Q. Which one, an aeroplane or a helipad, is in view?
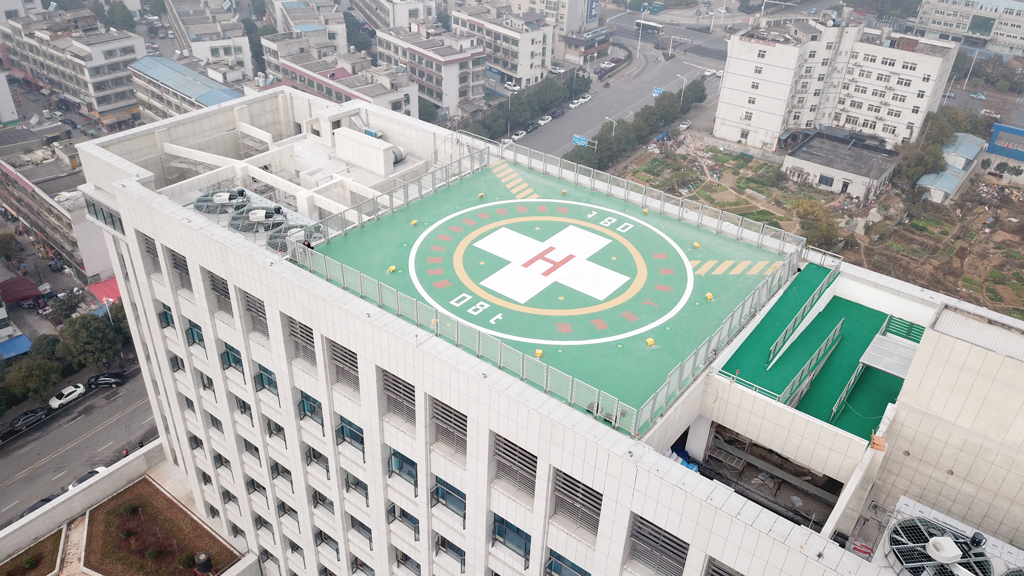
helipad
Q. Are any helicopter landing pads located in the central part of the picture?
Yes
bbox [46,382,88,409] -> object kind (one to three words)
car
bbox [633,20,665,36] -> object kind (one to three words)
vehicle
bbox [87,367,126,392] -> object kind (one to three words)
car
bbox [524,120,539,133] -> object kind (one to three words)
vehicle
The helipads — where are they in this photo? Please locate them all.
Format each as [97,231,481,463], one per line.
[289,160,800,440]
